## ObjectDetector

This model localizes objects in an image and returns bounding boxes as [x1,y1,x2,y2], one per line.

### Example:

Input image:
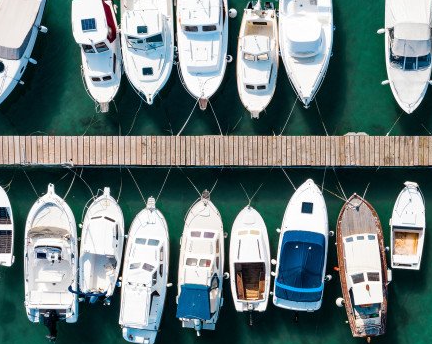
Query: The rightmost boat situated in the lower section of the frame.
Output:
[390,182,426,269]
